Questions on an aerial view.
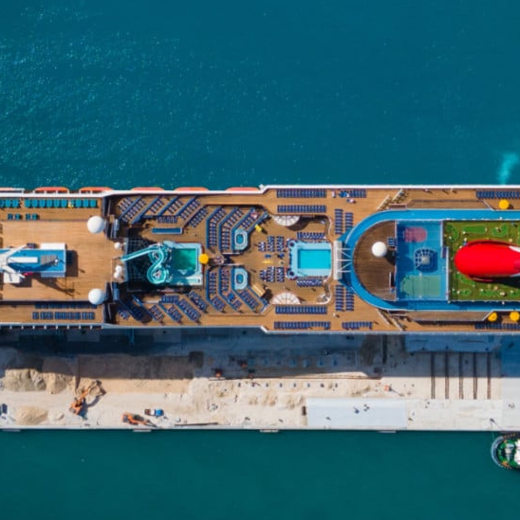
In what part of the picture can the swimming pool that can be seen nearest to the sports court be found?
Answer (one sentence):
You can find the swimming pool that can be seen nearest to the sports court in the center area of the picture.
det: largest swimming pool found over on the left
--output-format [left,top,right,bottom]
[164,241,201,286]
